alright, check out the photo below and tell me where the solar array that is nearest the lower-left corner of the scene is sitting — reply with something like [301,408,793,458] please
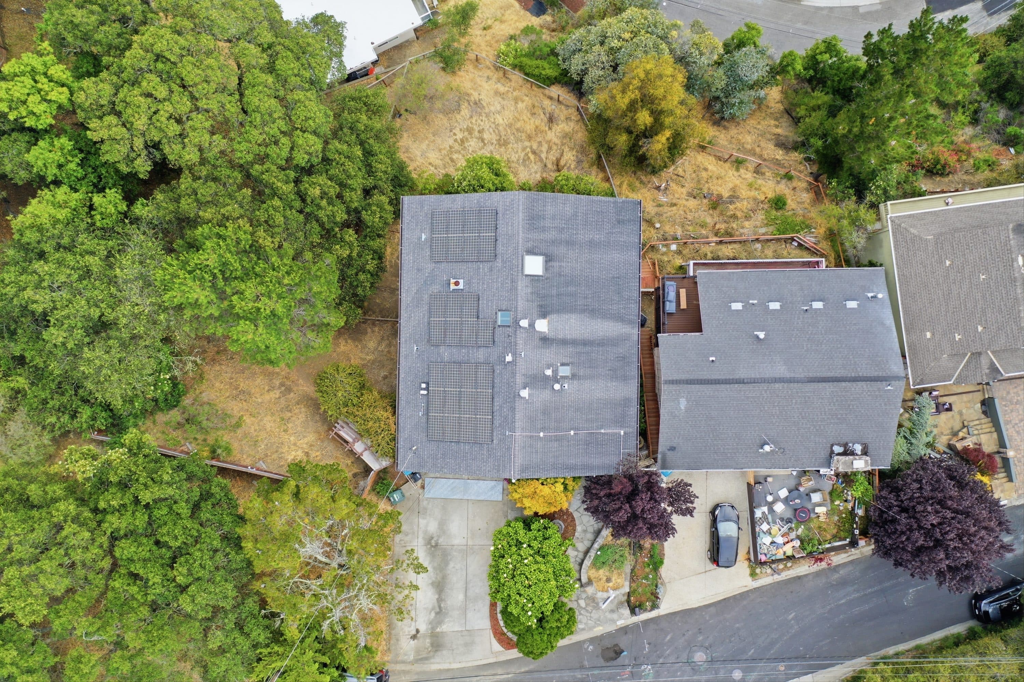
[428,364,494,443]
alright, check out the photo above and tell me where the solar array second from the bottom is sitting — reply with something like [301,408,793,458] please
[430,294,494,345]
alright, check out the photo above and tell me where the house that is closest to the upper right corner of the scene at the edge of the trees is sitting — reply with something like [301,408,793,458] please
[865,181,1024,390]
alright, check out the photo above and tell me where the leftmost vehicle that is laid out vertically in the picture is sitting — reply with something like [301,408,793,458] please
[709,503,743,571]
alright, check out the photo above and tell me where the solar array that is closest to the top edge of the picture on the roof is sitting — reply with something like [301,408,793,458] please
[432,208,497,261]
